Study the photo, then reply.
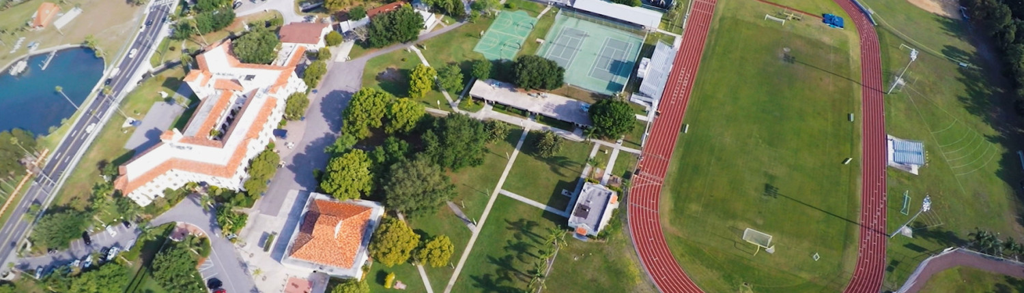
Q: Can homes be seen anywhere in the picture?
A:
Yes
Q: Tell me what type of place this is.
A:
sports ground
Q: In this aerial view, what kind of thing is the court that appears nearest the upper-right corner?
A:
tennis court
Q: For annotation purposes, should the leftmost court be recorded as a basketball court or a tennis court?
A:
basketball court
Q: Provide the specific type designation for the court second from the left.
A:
tennis court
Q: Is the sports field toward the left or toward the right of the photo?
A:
right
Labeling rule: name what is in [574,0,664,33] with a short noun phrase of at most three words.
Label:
building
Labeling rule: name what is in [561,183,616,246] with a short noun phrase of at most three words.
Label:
building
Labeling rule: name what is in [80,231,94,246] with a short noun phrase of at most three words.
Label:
car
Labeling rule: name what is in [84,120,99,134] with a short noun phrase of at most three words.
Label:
car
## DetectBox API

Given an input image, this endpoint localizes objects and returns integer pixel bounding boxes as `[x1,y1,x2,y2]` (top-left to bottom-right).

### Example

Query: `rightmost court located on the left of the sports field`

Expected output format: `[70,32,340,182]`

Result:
[576,23,647,94]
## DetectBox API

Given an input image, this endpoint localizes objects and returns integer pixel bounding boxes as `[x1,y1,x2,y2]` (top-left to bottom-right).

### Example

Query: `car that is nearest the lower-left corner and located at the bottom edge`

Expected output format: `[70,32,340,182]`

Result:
[31,265,46,282]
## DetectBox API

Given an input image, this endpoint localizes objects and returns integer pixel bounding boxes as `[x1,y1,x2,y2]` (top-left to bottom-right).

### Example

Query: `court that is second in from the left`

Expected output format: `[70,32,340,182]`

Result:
[534,9,603,80]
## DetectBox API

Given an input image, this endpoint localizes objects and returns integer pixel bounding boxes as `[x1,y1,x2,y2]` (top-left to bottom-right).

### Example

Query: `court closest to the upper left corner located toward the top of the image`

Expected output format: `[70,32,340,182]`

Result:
[473,9,537,61]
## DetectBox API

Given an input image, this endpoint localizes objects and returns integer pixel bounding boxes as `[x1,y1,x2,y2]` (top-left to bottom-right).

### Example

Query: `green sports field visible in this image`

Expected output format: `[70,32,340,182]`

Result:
[657,0,860,293]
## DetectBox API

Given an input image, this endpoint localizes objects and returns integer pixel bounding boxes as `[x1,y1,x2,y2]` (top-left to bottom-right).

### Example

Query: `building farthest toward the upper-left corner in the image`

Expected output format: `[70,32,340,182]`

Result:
[21,2,65,31]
